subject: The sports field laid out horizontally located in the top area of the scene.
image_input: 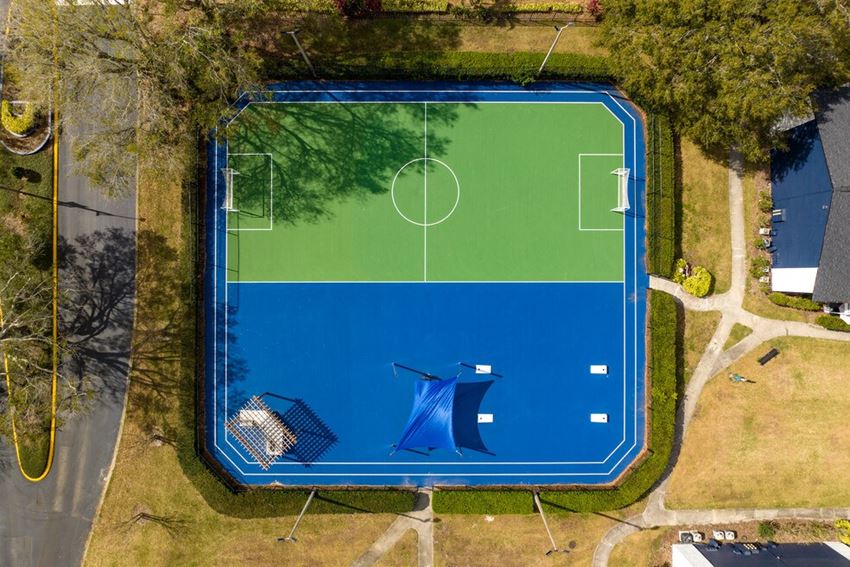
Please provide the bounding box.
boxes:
[227,104,623,282]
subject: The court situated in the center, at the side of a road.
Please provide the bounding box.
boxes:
[206,81,646,486]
